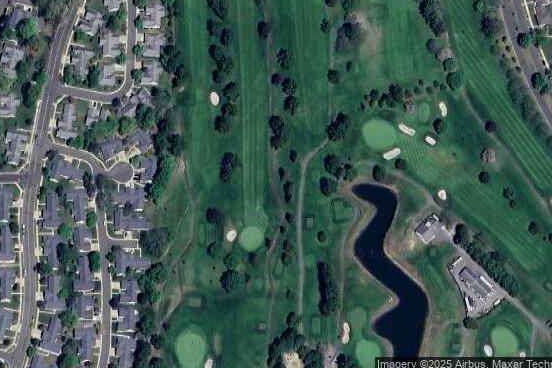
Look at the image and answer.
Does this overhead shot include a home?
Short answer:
Yes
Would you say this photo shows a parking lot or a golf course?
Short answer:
golf course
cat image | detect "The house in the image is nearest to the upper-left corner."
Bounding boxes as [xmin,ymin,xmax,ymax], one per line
[6,3,28,27]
